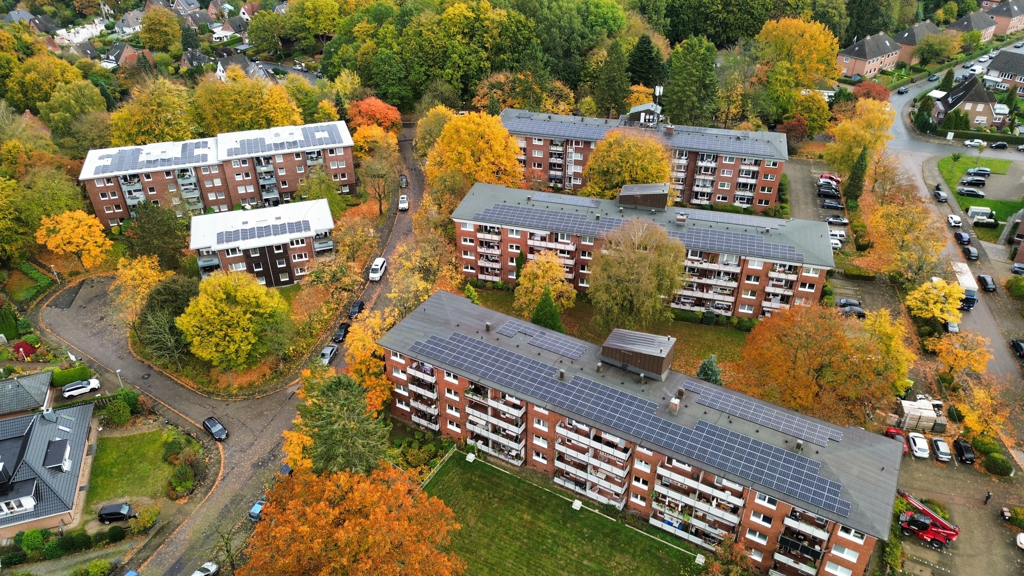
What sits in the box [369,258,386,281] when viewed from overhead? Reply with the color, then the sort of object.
white vehicle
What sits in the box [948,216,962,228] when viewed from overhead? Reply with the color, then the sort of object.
white vehicle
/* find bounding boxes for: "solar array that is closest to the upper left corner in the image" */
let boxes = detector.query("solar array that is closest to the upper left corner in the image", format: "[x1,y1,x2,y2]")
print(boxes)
[93,142,208,175]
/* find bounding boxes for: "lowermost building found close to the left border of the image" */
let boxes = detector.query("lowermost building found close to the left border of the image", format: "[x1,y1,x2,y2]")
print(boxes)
[0,401,95,542]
